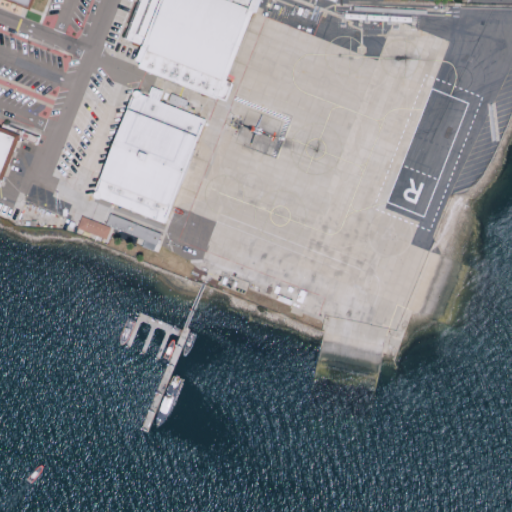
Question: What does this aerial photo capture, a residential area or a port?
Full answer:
This image shows a port.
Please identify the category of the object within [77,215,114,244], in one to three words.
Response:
building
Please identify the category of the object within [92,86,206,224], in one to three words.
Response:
hangar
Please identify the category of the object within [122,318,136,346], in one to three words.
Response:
boat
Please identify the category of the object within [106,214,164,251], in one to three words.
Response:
building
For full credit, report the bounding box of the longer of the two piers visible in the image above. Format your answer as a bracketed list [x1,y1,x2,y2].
[142,284,204,432]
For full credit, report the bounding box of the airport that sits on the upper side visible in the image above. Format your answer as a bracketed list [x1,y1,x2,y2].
[160,0,512,358]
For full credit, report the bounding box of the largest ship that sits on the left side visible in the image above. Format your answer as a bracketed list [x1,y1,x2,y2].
[158,376,184,428]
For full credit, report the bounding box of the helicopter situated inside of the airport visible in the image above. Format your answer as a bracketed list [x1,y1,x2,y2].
[242,114,276,143]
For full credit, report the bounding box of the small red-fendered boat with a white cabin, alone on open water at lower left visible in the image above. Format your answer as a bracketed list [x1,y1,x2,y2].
[27,465,44,482]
